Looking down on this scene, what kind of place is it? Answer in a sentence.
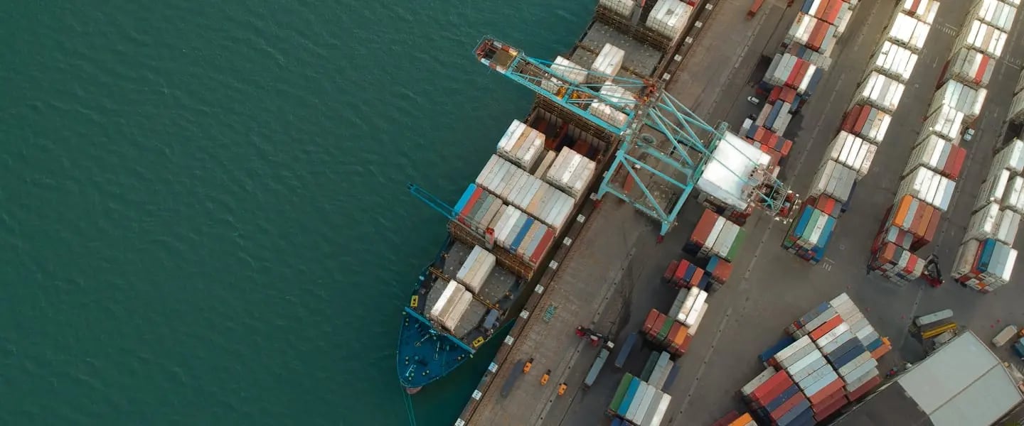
This looks like a port.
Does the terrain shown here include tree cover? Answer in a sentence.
No, the scene doesn't show any tree cover.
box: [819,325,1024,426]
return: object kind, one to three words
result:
shed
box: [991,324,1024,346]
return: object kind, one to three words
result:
truck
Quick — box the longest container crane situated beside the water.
[469,31,807,246]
